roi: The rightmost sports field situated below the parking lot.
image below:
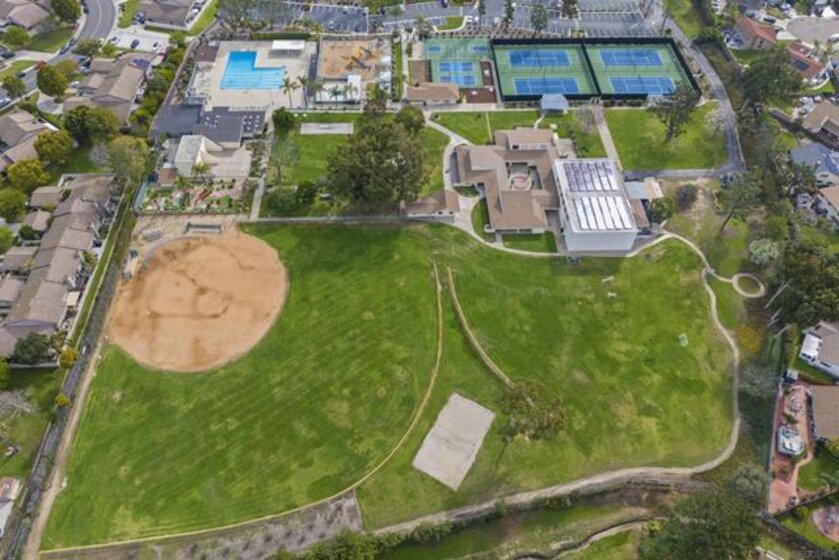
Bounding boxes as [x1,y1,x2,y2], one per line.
[359,221,734,534]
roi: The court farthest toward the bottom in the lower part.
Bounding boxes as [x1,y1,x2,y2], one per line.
[413,394,495,490]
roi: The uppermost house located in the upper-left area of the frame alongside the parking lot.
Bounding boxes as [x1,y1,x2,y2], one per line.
[134,0,202,33]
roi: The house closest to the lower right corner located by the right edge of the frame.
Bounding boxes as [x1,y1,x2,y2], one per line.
[800,384,839,441]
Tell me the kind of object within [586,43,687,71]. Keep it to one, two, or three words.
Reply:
tennis court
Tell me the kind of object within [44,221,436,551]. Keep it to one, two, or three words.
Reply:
baseball field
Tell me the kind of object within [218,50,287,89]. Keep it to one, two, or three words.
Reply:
swimming pool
